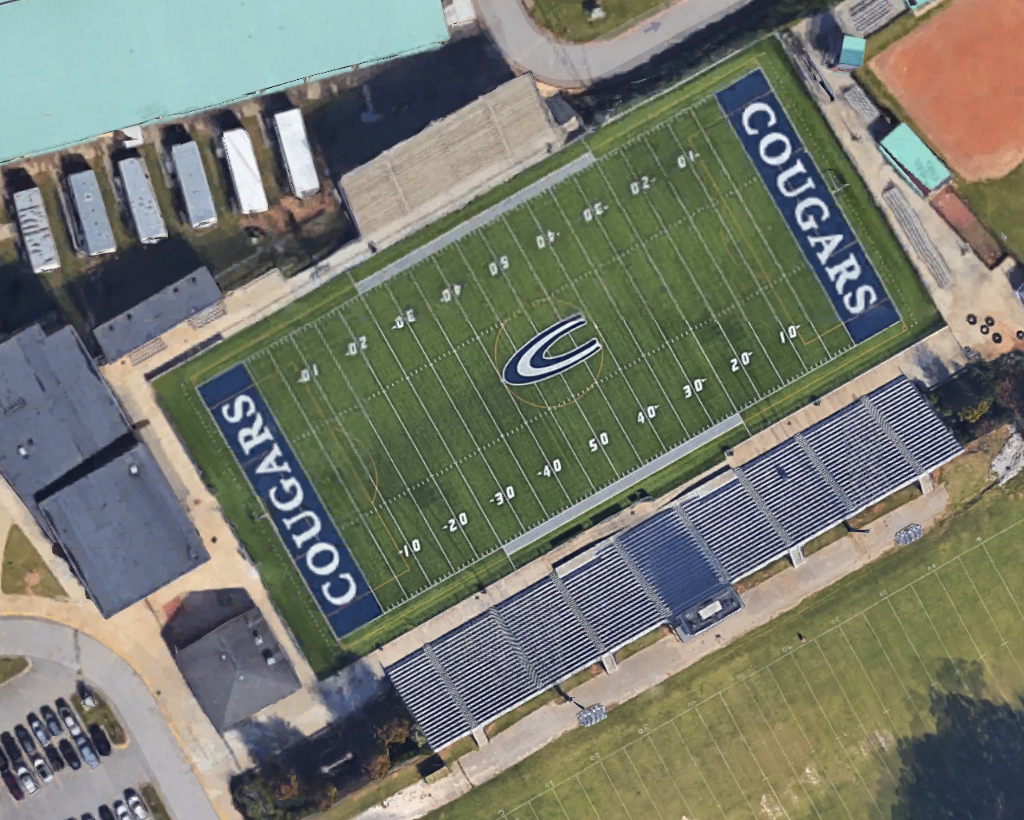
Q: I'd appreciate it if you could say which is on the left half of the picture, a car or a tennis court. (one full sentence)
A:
It is a car that can be seen on the left half of the picture.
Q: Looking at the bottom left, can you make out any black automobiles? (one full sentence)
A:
Yes, I can see a black automobile at the bottom left.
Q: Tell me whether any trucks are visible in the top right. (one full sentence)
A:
No, the scene shows no truck in the top right.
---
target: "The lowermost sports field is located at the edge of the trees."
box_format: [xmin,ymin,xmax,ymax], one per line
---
[423,484,1024,820]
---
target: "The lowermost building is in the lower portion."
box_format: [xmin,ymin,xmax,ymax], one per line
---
[175,606,302,733]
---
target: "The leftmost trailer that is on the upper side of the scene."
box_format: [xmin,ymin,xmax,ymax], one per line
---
[11,186,61,273]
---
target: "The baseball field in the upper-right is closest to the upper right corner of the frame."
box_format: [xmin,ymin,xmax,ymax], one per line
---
[866,0,1024,255]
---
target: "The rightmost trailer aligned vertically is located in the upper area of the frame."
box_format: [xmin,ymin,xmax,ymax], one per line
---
[269,109,320,198]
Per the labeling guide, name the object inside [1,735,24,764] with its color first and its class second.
black car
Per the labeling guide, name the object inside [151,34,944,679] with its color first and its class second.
green sports field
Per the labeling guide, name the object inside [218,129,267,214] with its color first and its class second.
white trailer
